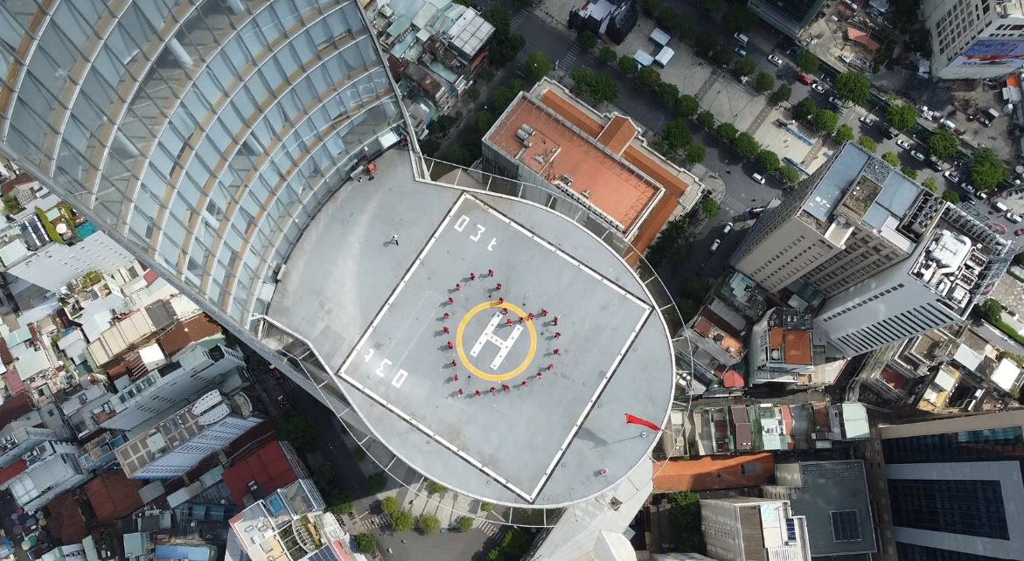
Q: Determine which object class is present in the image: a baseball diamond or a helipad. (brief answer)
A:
helipad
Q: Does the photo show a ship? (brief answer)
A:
No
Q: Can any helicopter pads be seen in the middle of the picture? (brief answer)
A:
Yes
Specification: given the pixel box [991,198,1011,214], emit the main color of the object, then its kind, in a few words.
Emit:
white vehicle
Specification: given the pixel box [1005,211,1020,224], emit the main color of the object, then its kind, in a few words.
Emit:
white vehicle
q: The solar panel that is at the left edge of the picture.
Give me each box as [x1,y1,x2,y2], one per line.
[21,214,47,248]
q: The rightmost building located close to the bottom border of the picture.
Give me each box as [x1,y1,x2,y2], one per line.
[856,408,1024,561]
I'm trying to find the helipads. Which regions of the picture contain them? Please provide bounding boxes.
[267,126,691,526]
